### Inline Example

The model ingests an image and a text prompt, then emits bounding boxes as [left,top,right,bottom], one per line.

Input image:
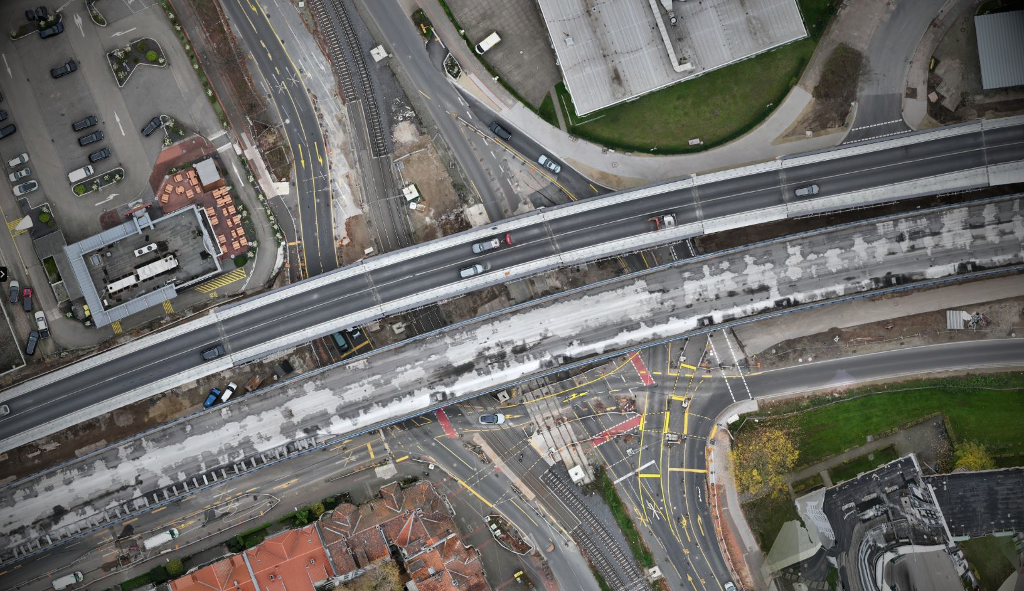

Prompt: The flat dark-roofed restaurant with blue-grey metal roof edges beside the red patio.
[65,200,223,327]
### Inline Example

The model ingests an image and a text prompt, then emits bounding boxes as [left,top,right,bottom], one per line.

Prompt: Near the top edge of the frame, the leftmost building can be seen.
[536,0,807,119]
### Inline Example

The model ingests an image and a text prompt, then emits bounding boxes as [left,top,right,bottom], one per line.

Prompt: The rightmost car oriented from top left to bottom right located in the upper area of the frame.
[536,152,562,175]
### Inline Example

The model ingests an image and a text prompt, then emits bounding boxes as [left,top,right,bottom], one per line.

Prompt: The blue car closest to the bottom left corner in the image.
[202,384,221,409]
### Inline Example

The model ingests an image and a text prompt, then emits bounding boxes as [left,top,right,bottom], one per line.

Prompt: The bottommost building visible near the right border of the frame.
[796,449,1024,591]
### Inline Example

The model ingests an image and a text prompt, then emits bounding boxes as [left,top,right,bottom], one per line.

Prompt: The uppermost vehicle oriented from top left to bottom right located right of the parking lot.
[487,118,513,141]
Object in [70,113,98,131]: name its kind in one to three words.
car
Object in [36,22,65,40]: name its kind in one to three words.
car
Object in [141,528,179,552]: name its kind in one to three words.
vehicle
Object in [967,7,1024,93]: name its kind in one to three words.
building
